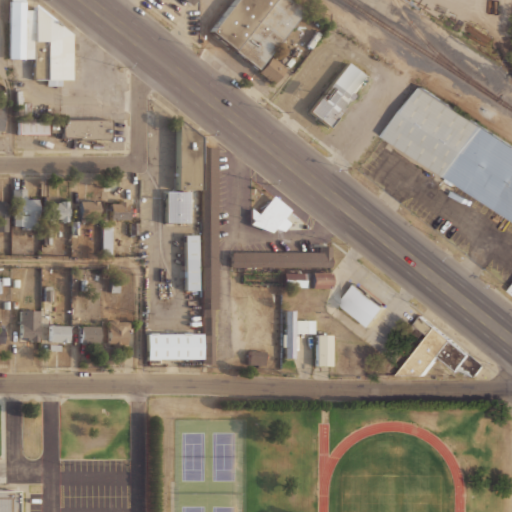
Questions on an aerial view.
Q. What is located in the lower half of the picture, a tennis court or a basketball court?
tennis court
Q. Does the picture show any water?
No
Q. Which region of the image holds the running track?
bottom right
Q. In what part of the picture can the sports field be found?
bottom right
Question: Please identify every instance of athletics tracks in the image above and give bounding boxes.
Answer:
[318,420,466,512]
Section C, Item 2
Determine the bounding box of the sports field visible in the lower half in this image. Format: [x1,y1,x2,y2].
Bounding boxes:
[330,432,454,512]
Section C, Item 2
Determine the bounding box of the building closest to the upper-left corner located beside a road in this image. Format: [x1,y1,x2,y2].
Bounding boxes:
[10,0,74,86]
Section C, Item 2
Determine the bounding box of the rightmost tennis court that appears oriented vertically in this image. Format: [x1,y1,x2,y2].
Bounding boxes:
[209,420,244,492]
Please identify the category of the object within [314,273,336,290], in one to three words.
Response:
barn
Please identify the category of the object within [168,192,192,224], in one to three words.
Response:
building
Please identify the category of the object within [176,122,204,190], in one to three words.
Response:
building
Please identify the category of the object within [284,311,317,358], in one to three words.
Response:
house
